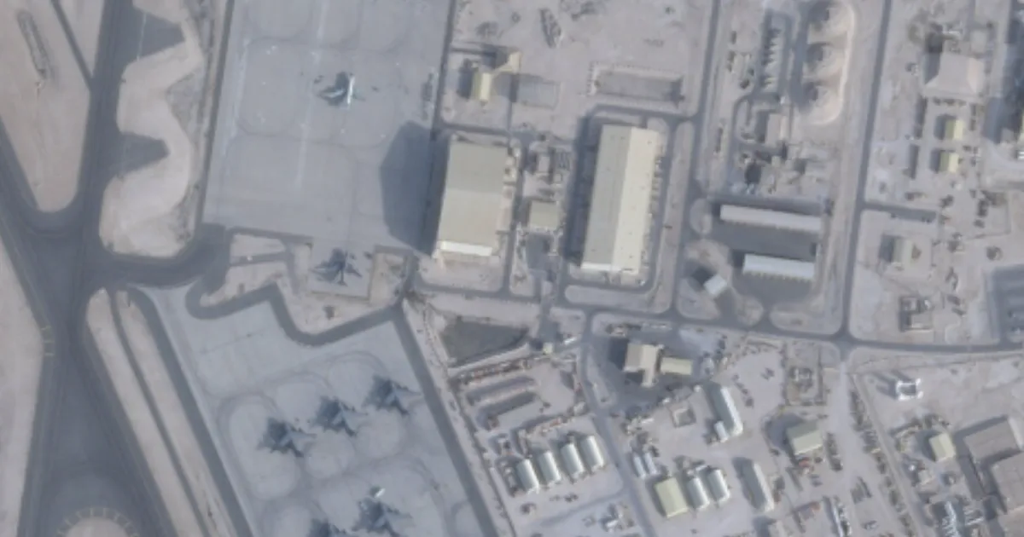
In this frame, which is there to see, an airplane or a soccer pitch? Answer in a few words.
airplane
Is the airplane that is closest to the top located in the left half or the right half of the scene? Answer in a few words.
left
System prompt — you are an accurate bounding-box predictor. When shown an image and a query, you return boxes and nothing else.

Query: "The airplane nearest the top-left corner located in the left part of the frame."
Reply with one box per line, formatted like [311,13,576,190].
[328,75,370,104]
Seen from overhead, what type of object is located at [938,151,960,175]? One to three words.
shed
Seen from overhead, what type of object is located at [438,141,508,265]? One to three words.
hangar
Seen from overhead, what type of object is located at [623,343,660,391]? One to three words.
building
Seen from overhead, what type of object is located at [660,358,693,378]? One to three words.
building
